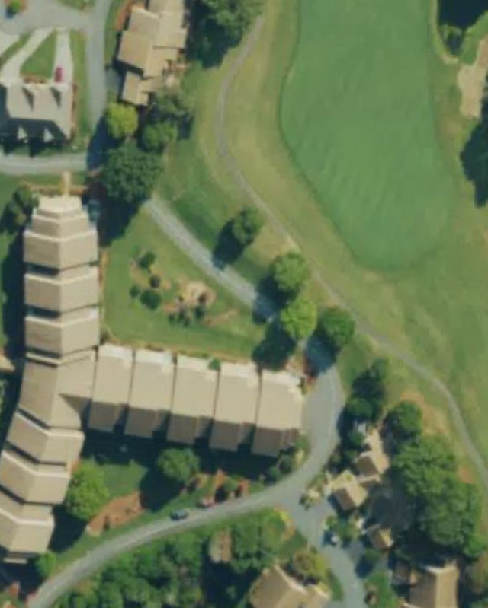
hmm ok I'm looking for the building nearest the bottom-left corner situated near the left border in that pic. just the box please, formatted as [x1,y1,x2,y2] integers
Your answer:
[0,491,56,565]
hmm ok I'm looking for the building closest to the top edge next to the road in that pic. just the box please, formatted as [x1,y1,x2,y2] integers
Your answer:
[115,0,189,107]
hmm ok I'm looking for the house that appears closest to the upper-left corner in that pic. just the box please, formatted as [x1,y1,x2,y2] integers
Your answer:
[0,82,74,142]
